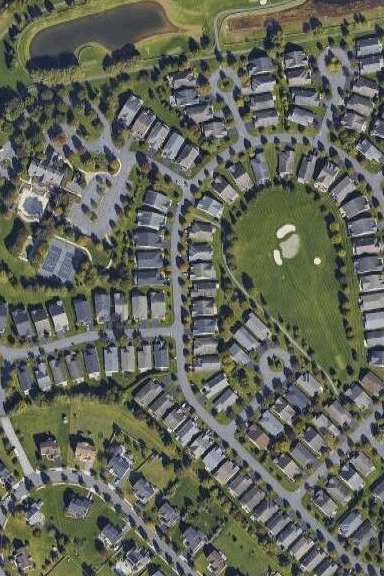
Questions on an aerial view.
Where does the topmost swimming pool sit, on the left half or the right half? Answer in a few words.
left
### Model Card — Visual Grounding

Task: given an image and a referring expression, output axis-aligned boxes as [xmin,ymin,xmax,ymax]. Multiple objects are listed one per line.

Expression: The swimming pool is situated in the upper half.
[19,185,49,223]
